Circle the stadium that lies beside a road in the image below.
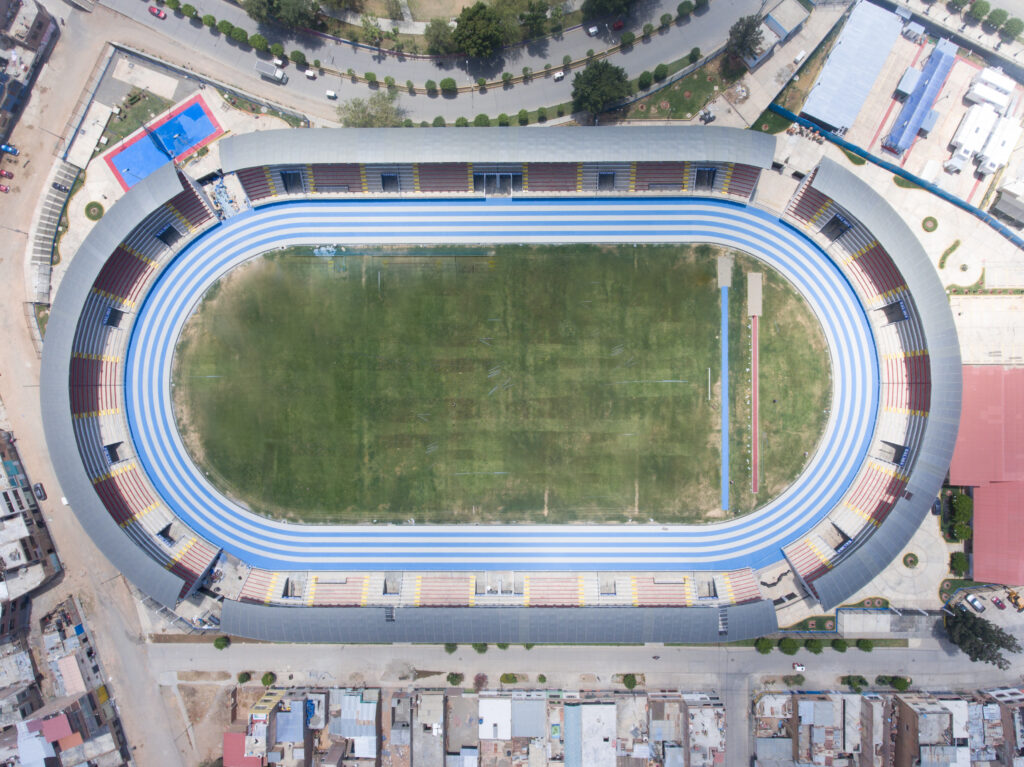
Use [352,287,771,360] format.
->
[40,127,961,643]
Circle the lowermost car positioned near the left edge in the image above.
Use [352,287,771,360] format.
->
[33,481,49,502]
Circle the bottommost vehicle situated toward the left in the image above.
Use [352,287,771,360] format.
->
[207,612,222,625]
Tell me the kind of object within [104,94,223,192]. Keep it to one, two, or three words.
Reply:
sports court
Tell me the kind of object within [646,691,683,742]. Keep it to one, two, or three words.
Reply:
house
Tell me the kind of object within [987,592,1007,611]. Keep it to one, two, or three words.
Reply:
car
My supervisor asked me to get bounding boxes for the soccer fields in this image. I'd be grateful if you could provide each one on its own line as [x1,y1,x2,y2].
[170,244,833,524]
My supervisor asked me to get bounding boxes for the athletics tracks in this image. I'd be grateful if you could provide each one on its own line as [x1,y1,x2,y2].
[124,193,879,575]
